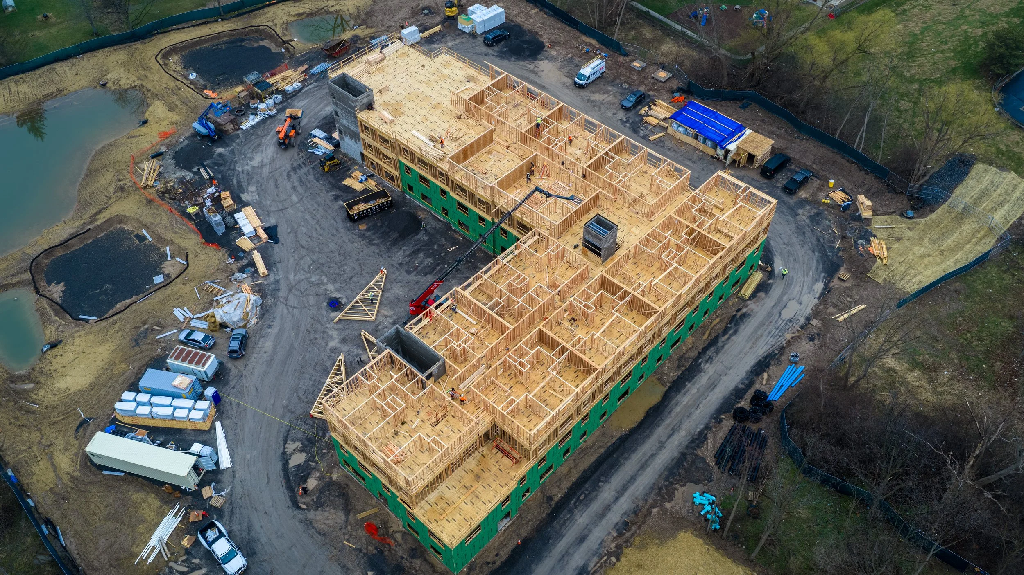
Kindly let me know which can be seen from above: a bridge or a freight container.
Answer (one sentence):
The one in the frame is a freight container.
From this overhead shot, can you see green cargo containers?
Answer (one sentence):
No, the photo shows no green cargo container.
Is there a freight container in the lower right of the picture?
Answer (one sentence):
No, there's no freight container to be seen in the lower right of the picture.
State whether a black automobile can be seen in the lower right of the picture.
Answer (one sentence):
No, I see no black automobile in the lower right of the picture.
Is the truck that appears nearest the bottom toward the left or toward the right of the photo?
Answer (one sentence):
The truck that appears nearest the bottom is on the left side of the image.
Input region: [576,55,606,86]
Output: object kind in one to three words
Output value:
van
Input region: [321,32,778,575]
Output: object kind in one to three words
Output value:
building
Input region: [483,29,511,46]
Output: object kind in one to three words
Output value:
car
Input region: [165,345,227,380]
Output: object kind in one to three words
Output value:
trailer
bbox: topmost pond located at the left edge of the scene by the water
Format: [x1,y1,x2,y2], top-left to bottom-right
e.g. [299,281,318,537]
[0,89,150,257]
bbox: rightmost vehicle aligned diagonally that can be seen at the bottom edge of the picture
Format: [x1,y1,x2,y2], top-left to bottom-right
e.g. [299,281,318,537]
[203,520,246,575]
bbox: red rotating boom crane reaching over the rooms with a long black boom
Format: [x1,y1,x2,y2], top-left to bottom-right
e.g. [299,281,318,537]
[398,184,582,331]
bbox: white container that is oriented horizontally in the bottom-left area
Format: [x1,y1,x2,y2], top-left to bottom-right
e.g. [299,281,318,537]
[84,430,209,488]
